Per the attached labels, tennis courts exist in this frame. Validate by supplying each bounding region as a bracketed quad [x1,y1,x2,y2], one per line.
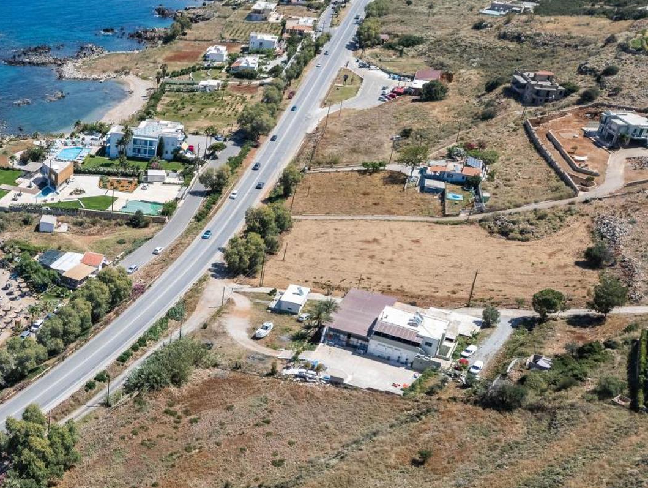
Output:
[121,200,161,215]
